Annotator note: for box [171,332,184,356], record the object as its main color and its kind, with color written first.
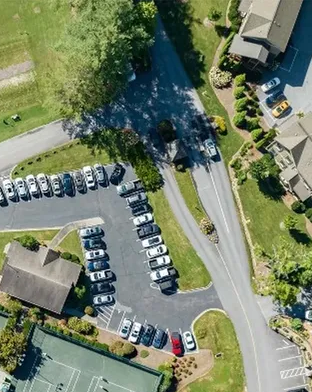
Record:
red vehicle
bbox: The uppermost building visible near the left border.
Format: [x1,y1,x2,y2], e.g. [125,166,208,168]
[0,241,82,315]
